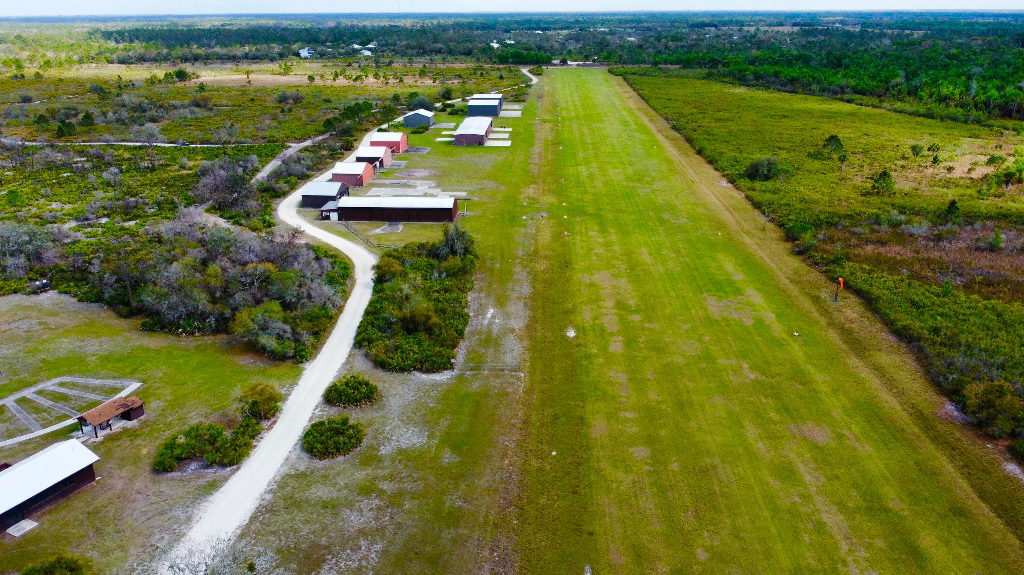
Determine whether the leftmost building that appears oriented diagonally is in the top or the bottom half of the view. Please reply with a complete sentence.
The leftmost building that appears oriented diagonally sits in the bottom half of the picture.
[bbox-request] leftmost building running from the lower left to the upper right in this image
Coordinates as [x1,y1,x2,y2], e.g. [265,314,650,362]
[0,446,101,534]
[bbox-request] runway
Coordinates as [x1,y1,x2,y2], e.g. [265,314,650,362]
[554,68,976,575]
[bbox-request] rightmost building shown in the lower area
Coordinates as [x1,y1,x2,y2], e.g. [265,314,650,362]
[77,394,145,440]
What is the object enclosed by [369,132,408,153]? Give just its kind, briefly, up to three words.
hangar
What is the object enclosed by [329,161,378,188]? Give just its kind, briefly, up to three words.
hangar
